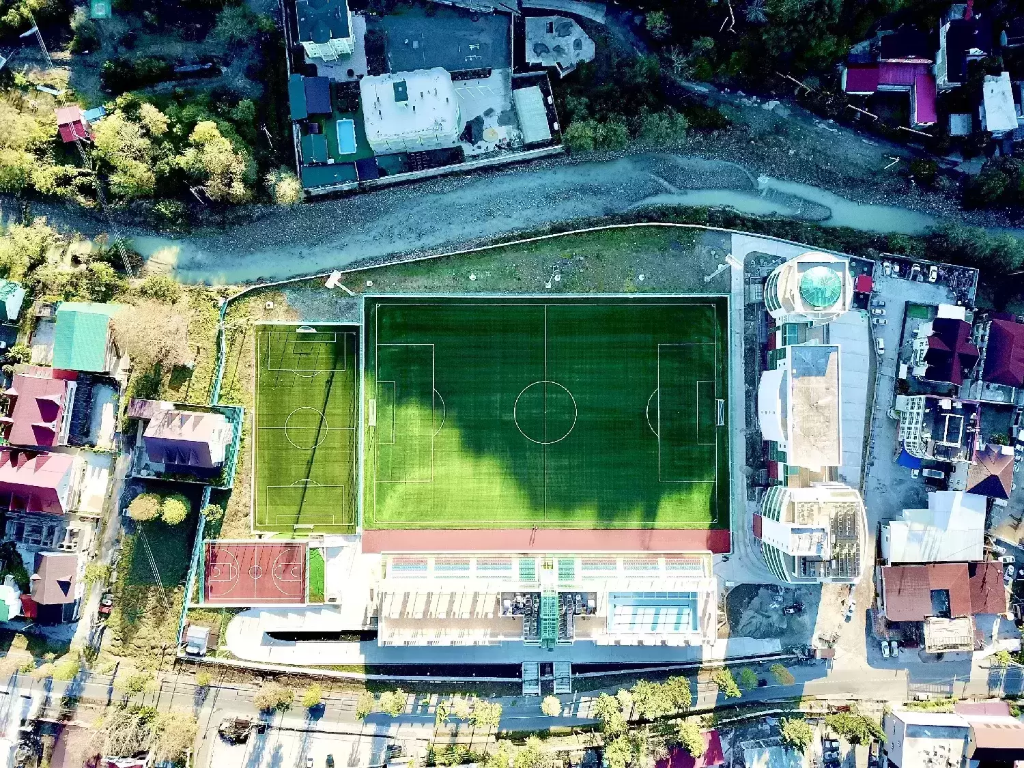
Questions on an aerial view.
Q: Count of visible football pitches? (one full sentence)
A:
The number of football pitches here is 2.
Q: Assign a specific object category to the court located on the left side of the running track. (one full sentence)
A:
The court located on the left side of the running track is a basketball court.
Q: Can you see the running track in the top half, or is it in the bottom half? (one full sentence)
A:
The bottom half of the photo is where the running track is.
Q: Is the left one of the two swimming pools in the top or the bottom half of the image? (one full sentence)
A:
The top half of the photo is where the left one of the two swimming pools is.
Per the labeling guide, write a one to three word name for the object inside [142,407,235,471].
house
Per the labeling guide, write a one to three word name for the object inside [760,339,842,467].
building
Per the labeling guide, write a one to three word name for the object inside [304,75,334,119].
shed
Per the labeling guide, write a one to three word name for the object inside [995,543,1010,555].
vehicle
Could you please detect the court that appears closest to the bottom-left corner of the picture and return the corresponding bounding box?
[203,543,306,604]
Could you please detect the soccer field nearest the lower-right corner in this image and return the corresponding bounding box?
[362,297,730,529]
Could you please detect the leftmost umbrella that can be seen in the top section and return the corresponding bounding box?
[483,125,497,139]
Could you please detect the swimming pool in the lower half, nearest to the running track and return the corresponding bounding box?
[608,592,698,634]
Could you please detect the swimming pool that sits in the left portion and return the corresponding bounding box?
[336,119,357,154]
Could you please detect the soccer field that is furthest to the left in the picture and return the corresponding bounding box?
[253,324,360,533]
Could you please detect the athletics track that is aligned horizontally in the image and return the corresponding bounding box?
[362,530,730,552]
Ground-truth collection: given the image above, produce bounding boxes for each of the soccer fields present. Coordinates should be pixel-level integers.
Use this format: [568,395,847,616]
[362,297,730,529]
[253,324,360,533]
